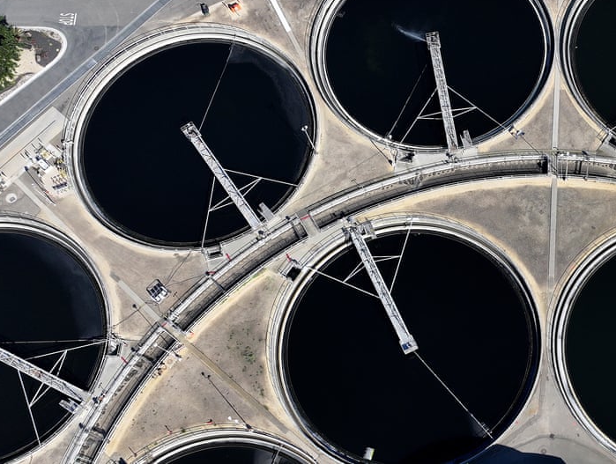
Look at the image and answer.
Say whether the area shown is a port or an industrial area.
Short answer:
industrial area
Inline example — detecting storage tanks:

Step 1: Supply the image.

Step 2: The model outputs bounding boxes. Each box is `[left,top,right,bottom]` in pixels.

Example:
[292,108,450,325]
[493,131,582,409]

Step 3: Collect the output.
[0,210,115,464]
[59,20,320,253]
[264,211,546,464]
[128,427,323,464]
[557,0,616,140]
[547,229,616,464]
[305,0,557,155]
